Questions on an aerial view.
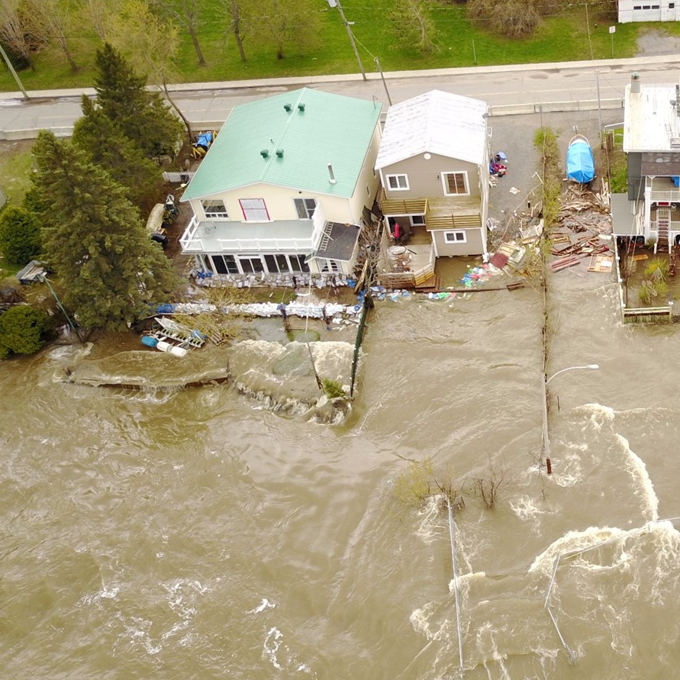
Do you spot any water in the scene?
Yes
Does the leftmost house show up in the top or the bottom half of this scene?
top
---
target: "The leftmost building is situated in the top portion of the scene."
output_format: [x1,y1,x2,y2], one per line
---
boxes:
[174,88,388,280]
